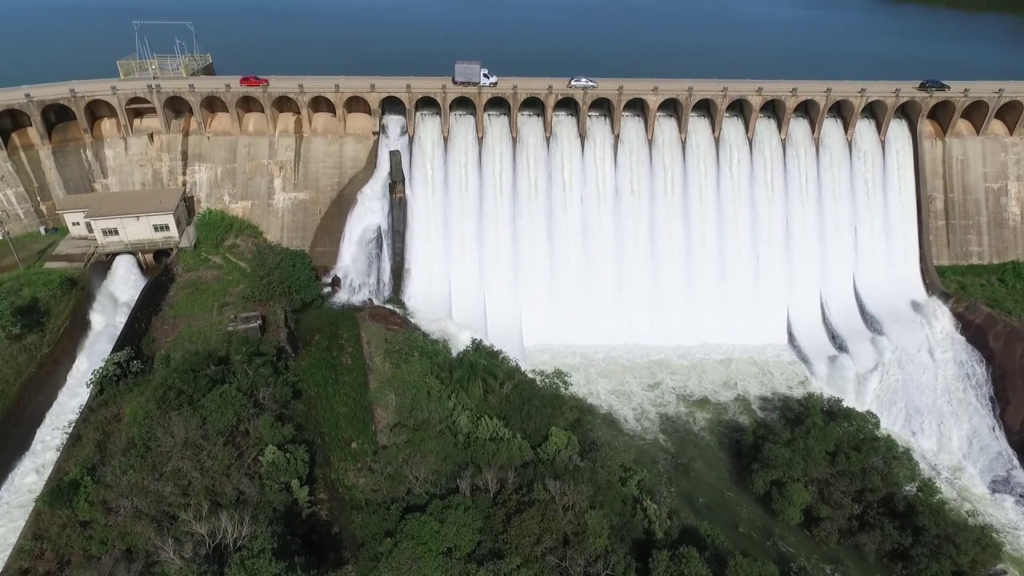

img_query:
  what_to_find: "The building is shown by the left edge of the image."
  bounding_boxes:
[47,187,199,281]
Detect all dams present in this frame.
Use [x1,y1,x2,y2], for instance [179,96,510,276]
[0,73,1024,334]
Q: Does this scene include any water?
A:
Yes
